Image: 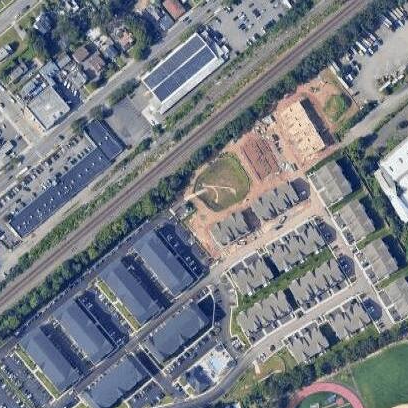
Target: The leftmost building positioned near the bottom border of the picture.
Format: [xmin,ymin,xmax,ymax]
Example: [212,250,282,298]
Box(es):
[20,326,82,394]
